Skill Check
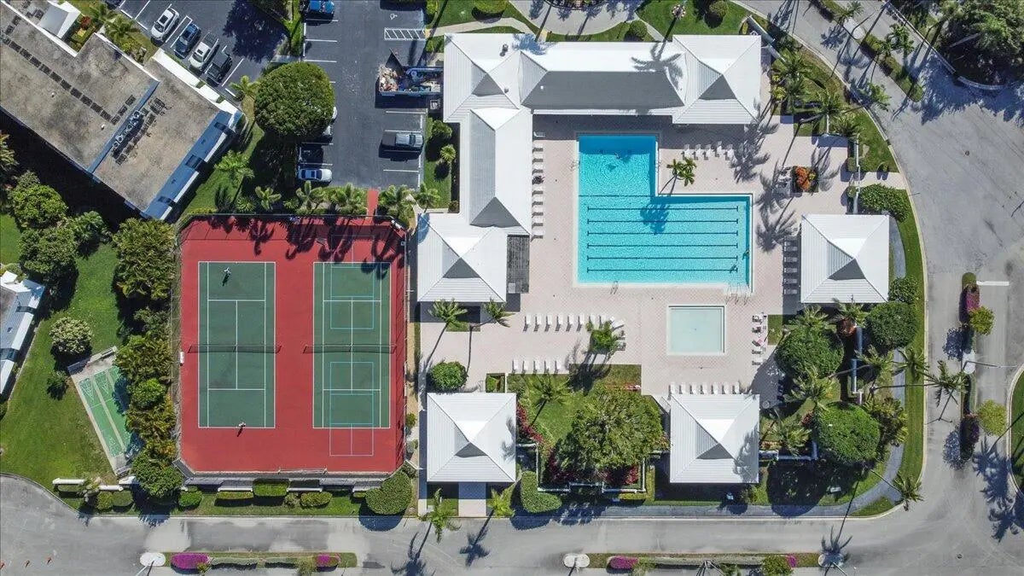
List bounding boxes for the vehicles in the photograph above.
[381,133,424,150]
[298,167,333,183]
[317,124,331,138]
[205,49,236,86]
[301,0,335,15]
[190,35,219,69]
[153,8,182,41]
[174,24,203,57]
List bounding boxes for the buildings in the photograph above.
[0,266,47,392]
[0,0,245,220]
[795,213,889,303]
[427,393,516,482]
[670,393,759,483]
[417,33,762,302]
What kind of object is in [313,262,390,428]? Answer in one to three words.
tennis court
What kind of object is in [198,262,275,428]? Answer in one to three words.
tennis court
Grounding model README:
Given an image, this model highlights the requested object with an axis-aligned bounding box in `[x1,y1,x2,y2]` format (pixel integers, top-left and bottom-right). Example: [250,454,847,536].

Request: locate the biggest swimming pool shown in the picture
[573,132,755,295]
